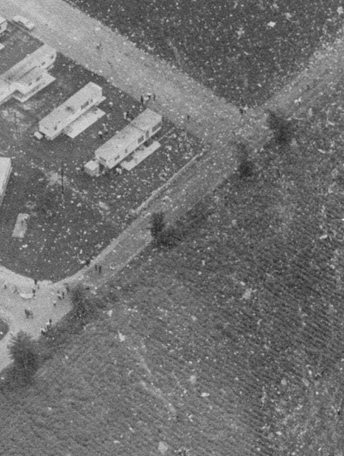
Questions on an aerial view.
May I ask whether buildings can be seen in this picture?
Yes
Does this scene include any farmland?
Yes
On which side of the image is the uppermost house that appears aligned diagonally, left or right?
left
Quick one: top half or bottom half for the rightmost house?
top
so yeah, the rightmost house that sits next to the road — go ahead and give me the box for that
[95,108,163,169]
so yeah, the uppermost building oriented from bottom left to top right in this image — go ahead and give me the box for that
[0,43,57,103]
